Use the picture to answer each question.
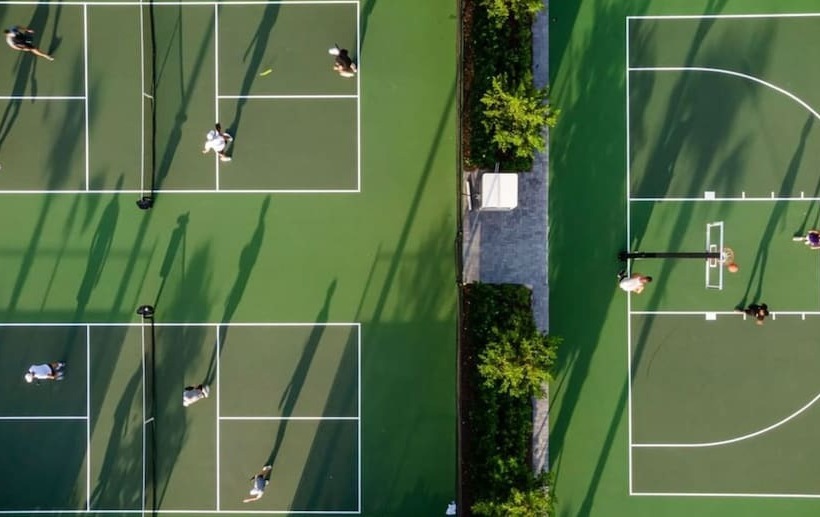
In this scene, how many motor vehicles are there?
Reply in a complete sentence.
The picture shows no motor vehicles.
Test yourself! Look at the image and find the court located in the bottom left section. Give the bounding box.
[0,323,361,513]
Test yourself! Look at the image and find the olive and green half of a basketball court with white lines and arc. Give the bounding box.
[627,12,820,498]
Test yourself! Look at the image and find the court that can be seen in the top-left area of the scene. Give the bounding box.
[0,1,360,193]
